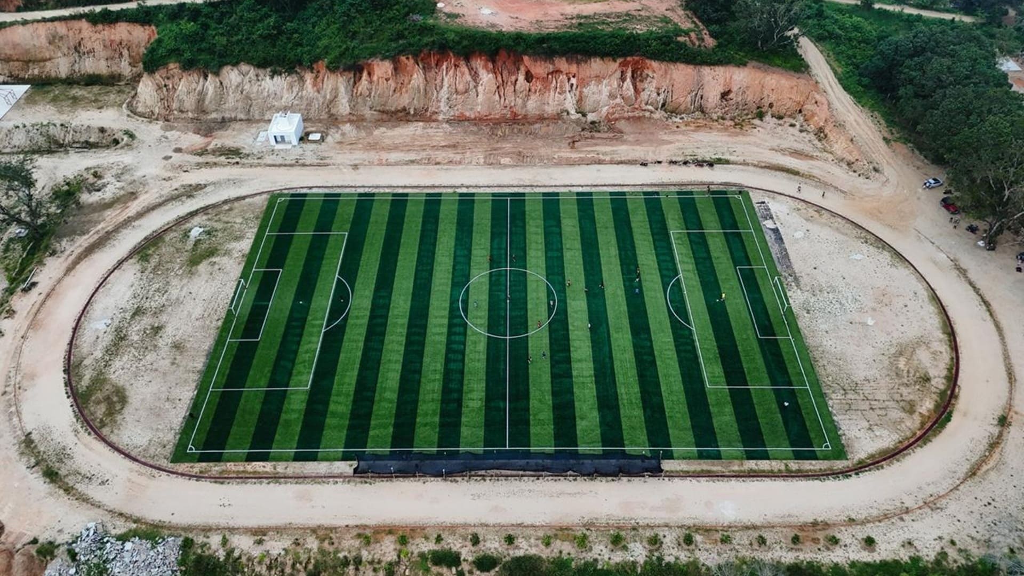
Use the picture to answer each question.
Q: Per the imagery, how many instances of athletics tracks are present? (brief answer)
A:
1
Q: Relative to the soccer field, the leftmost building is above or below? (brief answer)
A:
above it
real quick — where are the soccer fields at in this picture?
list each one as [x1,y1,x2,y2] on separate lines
[168,191,846,462]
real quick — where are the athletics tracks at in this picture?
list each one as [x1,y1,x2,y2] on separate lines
[11,161,1012,532]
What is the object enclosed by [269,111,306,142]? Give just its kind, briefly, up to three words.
building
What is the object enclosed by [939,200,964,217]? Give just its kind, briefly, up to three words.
vehicle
